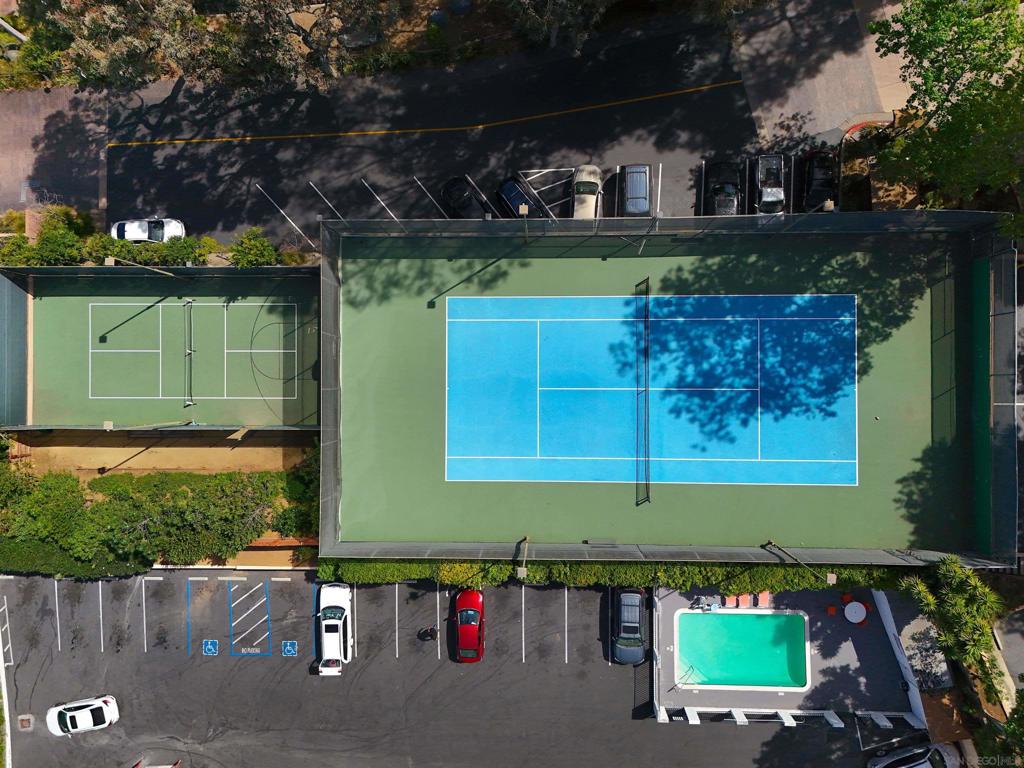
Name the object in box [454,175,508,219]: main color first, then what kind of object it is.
black car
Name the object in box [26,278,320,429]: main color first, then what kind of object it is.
green sports court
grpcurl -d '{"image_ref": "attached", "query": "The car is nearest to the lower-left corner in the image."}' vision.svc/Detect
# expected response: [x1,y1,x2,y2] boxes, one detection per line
[49,693,122,738]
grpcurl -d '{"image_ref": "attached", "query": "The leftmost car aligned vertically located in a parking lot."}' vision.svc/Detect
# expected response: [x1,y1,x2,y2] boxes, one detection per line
[314,583,352,673]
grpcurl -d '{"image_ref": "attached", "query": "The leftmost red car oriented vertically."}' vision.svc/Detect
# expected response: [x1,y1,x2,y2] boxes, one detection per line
[453,588,486,662]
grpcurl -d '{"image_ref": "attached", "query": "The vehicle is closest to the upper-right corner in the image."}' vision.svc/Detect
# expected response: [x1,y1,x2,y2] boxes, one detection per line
[799,147,842,218]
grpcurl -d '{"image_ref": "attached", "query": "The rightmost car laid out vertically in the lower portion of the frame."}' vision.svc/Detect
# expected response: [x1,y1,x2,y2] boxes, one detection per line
[612,586,648,665]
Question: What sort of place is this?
sports ground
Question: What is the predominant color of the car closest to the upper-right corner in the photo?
black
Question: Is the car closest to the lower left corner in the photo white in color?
Yes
